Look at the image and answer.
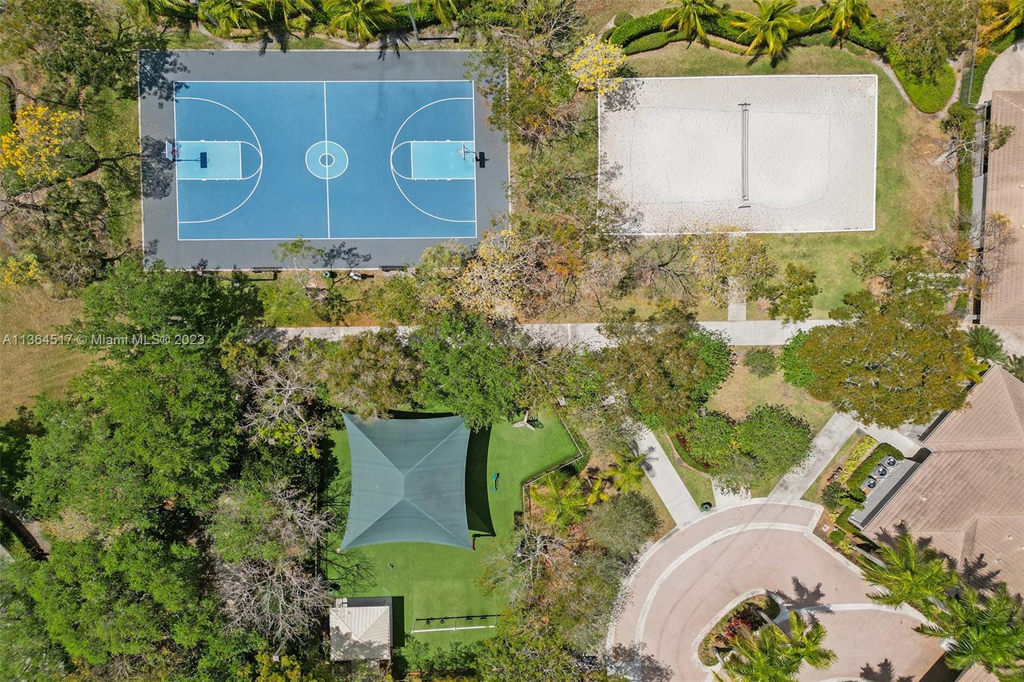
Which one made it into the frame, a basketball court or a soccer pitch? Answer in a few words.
basketball court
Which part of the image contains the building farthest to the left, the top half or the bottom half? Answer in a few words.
bottom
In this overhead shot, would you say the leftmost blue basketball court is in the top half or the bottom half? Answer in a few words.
top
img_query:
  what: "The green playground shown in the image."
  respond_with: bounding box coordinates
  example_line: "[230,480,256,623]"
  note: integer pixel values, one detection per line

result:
[319,404,577,675]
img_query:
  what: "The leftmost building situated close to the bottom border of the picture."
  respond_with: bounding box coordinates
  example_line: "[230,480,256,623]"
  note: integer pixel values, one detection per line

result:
[330,596,393,661]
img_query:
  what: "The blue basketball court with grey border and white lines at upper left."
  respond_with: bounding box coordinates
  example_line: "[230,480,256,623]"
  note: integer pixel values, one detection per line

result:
[138,48,513,270]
